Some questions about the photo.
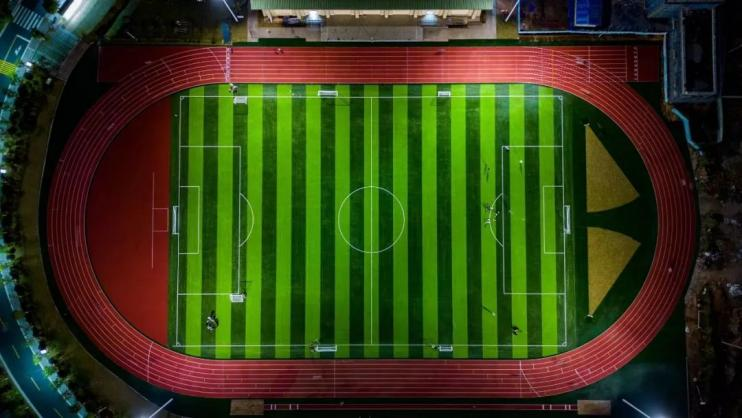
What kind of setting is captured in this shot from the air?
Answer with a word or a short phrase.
sports ground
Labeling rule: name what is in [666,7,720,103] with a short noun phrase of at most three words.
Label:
building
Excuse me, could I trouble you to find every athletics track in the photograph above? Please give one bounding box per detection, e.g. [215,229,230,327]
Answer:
[47,46,695,398]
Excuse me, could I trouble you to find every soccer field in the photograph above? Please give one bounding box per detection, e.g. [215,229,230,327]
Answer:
[167,85,575,358]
